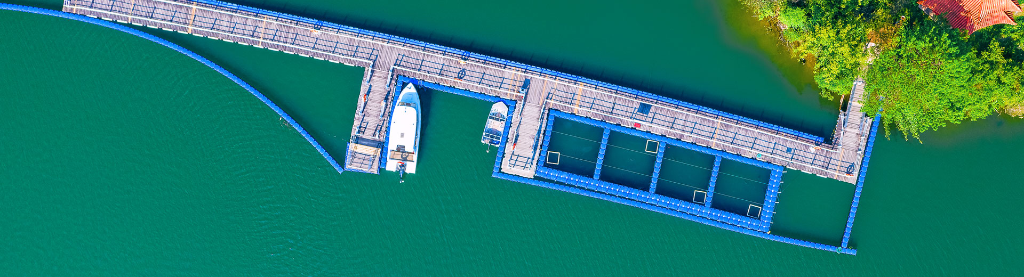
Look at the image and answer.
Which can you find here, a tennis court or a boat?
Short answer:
boat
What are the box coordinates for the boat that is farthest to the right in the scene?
[481,101,508,152]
